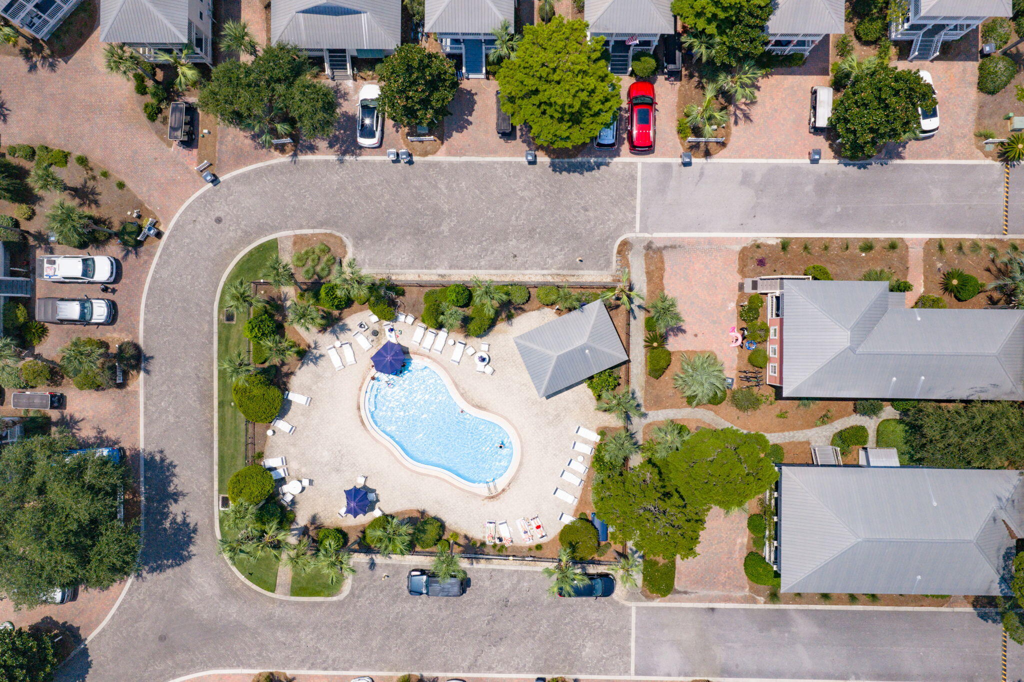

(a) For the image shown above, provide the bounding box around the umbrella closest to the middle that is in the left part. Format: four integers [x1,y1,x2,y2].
[372,340,406,374]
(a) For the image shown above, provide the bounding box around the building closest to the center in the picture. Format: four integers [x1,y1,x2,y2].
[512,299,629,399]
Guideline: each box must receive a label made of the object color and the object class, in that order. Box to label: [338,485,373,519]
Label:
blue umbrella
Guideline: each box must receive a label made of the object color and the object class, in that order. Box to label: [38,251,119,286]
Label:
white truck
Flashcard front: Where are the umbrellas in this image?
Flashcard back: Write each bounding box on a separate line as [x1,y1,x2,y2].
[372,340,406,374]
[338,485,373,519]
